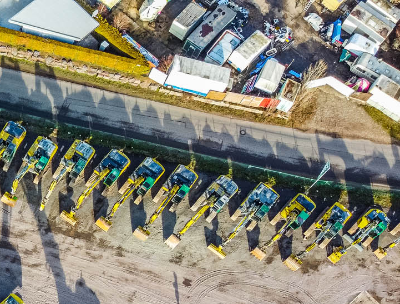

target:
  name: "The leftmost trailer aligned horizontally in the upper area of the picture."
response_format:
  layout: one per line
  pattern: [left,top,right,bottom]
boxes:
[168,55,231,93]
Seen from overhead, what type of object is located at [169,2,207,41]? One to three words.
trailer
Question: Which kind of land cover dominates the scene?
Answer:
paved ground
